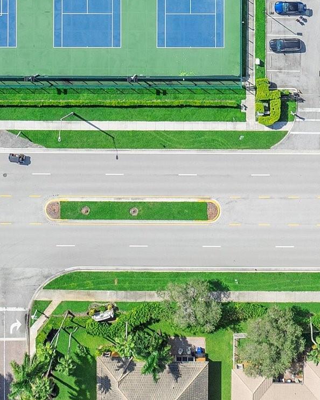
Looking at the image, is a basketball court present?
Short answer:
No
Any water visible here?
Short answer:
No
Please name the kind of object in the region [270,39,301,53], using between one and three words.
car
